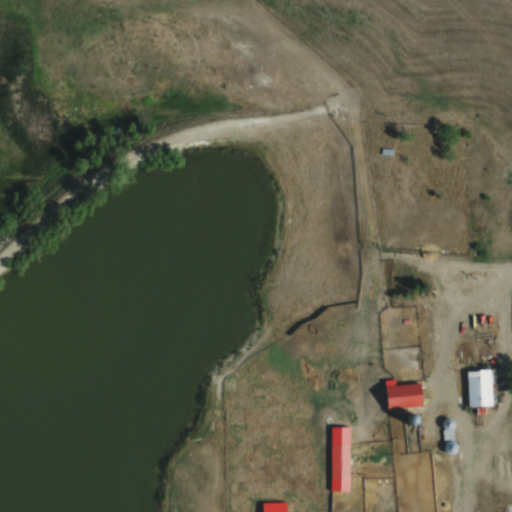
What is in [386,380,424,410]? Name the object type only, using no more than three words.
barn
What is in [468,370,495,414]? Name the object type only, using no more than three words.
house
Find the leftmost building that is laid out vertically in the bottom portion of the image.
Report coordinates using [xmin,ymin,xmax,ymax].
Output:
[331,428,351,492]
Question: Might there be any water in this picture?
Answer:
Yes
